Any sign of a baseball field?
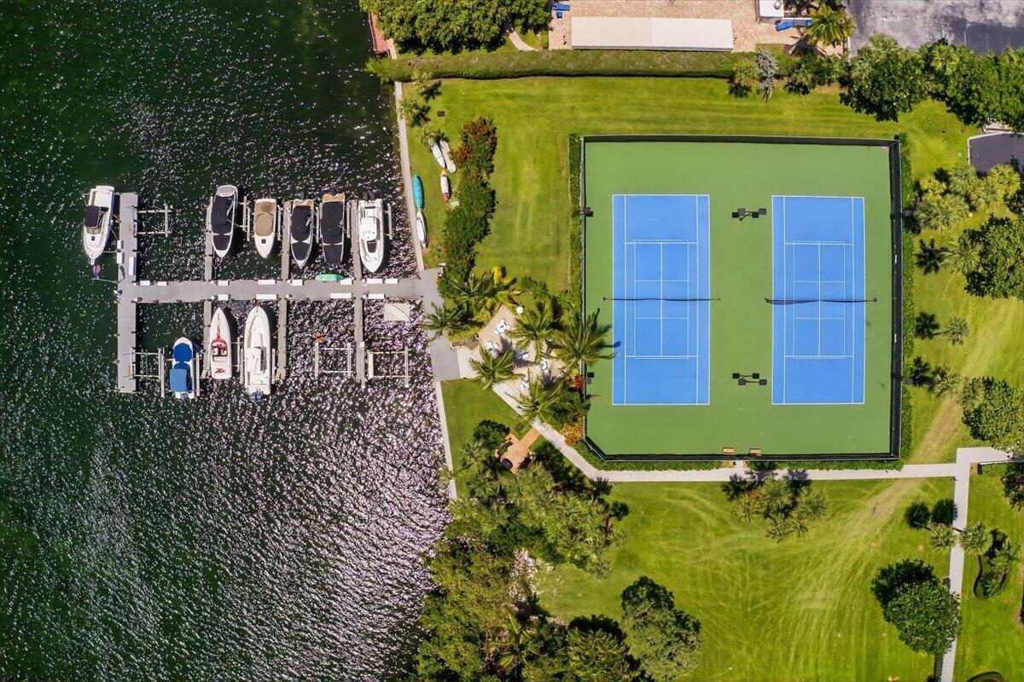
No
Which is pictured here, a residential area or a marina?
marina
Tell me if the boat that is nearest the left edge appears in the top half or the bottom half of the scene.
top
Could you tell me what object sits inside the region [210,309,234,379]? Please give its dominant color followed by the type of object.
white boat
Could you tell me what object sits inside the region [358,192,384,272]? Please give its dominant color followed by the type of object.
white boat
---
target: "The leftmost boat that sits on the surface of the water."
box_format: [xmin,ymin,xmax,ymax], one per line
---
[83,184,119,265]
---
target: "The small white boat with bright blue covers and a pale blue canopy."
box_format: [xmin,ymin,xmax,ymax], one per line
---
[168,338,196,402]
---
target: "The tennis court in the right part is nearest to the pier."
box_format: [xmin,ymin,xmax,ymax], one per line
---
[584,142,741,457]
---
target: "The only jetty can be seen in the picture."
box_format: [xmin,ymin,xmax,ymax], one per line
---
[115,193,460,393]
